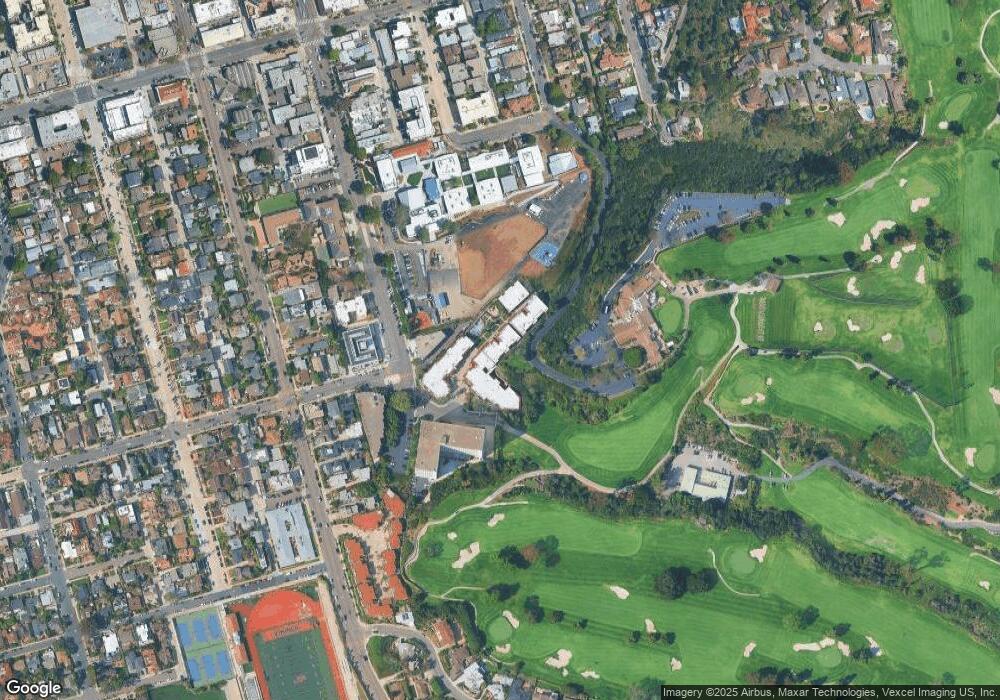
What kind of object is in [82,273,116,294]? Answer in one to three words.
house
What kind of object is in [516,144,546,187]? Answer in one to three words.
building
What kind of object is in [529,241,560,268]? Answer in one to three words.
basketball court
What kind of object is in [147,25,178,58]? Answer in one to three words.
building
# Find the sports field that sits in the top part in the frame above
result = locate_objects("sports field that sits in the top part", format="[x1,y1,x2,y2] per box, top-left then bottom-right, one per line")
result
[459,213,547,299]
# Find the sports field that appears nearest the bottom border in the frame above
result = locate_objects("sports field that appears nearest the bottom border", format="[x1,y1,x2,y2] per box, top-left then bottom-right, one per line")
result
[255,621,339,700]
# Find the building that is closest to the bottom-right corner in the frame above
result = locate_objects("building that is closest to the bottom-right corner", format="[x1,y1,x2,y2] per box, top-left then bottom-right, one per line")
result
[682,467,731,501]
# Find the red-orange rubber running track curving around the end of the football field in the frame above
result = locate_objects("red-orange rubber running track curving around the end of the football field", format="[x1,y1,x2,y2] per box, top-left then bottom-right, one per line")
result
[230,590,348,700]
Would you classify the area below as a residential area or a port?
residential area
